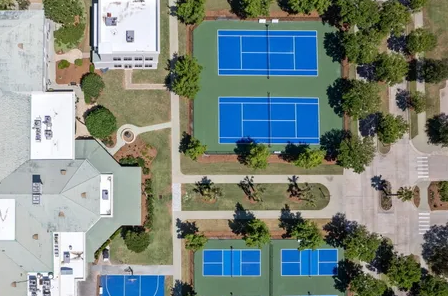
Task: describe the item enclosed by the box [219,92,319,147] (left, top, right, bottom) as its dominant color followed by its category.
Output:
blue tennis court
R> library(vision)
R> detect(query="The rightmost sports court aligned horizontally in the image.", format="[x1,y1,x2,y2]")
[281,250,337,277]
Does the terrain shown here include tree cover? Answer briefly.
Yes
